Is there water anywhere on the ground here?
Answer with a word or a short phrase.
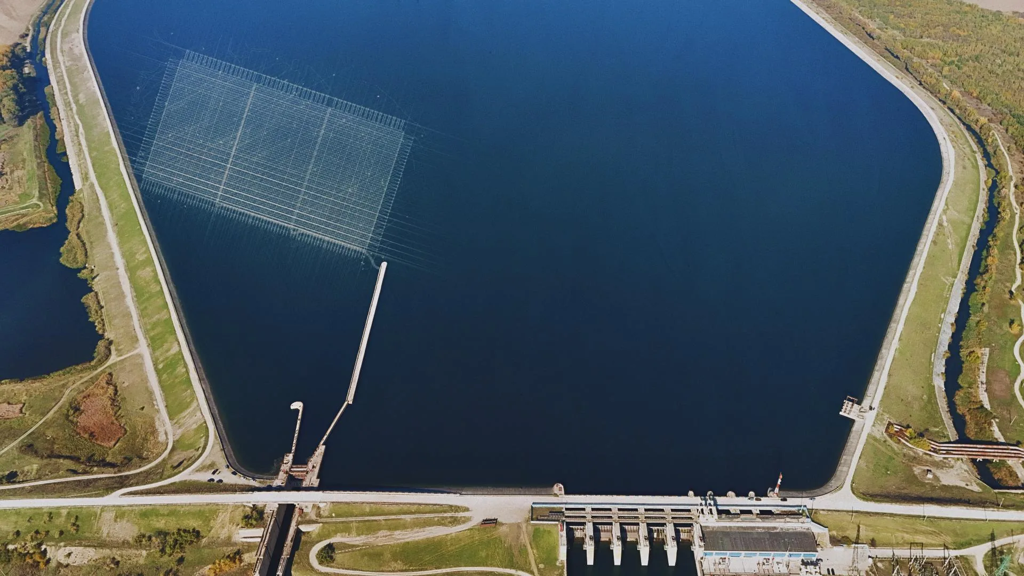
Yes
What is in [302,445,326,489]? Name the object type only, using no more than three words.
pier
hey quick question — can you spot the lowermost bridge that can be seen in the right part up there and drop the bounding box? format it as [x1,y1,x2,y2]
[559,508,702,524]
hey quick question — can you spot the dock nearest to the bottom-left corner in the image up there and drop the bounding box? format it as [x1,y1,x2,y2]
[273,454,294,489]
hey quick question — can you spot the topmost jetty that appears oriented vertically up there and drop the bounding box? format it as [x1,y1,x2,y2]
[346,262,387,405]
